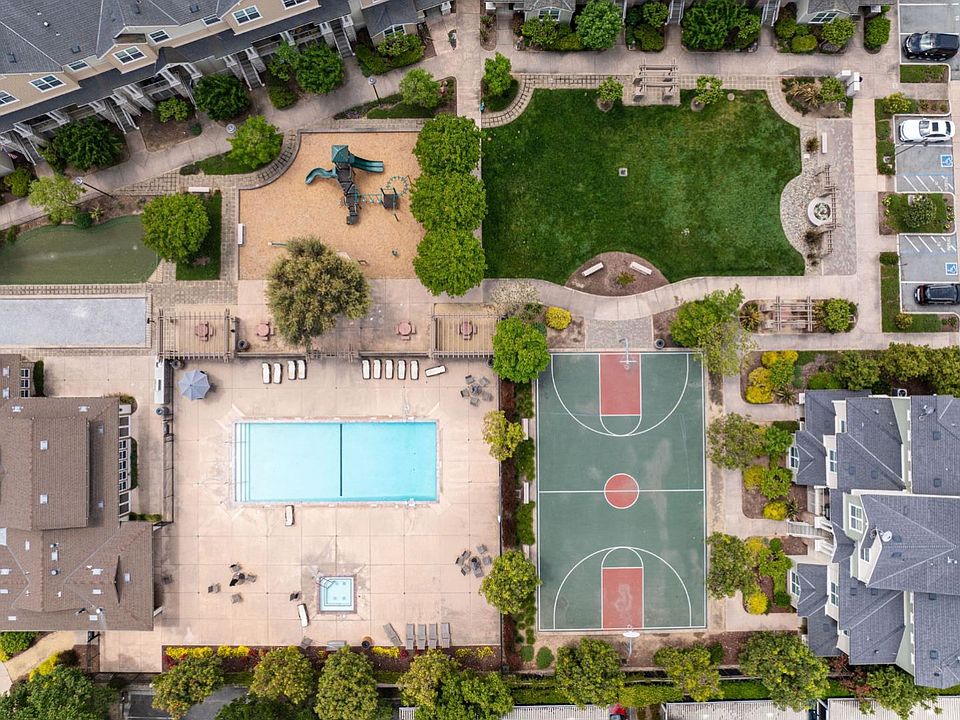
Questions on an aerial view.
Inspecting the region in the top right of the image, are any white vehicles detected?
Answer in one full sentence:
Yes, I can see a white vehicle in the top right of the image.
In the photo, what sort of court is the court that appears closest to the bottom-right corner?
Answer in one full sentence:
I'd say the court that appears closest to the bottom-right corner is a basketball court.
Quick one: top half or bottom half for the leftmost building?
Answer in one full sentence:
The leftmost building is in the bottom half of the image.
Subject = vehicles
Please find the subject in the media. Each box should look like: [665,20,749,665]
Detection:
[905,27,960,58]
[610,704,632,720]
[918,279,960,305]
[899,114,957,142]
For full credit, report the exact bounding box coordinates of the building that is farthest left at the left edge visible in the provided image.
[0,354,166,629]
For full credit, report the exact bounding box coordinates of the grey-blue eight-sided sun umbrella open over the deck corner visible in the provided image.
[177,368,210,400]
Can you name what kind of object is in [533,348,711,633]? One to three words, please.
basketball court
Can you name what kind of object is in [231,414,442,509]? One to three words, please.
swimming pool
